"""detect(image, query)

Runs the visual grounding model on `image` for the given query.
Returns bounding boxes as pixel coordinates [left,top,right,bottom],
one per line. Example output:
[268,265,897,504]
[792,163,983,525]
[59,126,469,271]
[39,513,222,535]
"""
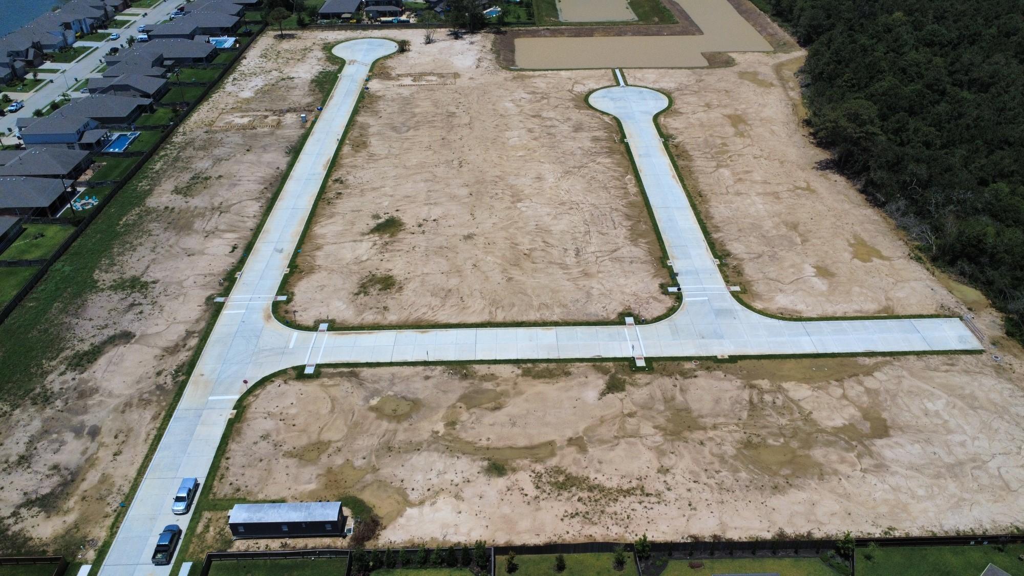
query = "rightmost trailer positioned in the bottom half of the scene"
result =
[227,497,347,537]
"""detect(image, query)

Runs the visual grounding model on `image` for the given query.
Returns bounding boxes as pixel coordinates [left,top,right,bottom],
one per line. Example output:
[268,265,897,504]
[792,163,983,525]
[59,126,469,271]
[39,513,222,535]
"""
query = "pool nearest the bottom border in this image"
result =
[104,131,140,149]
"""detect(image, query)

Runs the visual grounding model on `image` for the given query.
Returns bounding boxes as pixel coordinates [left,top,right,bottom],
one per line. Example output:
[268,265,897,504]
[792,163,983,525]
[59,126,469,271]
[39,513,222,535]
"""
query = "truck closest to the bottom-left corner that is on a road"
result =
[148,521,183,567]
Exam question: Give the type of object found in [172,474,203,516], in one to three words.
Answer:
truck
